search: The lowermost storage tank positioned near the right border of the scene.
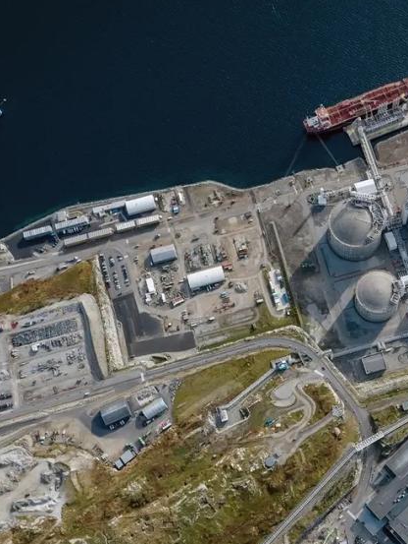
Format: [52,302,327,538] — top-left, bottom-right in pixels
[354,270,402,321]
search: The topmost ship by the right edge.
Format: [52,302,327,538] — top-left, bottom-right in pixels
[301,79,408,136]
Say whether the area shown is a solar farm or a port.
port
